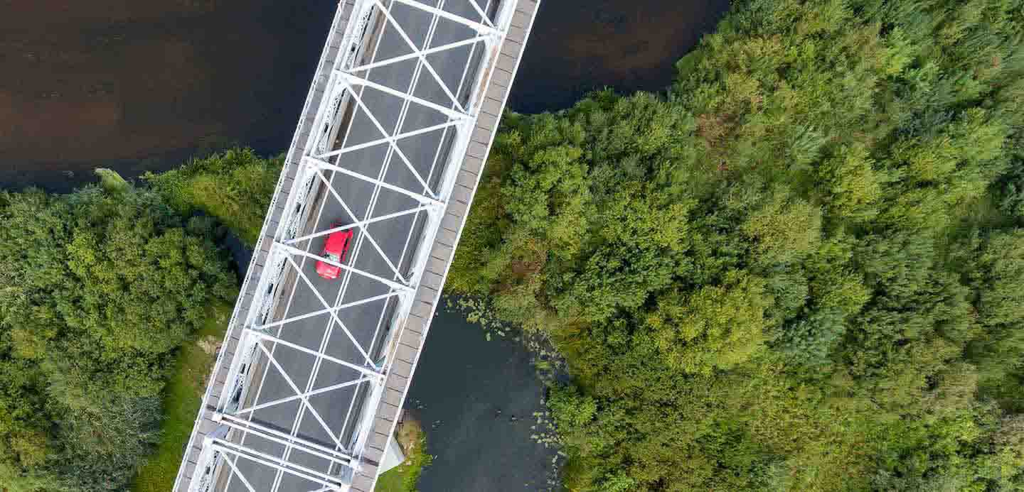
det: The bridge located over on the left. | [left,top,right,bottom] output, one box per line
[172,0,542,492]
